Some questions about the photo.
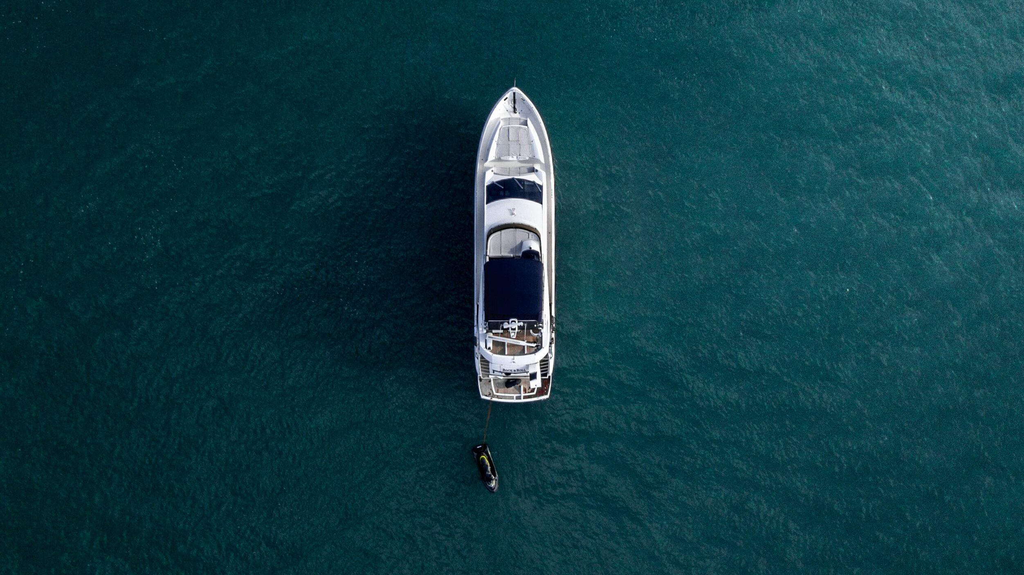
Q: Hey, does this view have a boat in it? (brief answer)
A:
Yes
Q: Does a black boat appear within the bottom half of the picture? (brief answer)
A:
Yes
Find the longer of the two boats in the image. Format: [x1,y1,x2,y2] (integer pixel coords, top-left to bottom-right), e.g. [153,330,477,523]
[474,82,556,402]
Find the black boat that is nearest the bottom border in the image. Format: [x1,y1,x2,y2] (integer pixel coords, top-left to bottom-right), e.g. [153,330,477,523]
[473,445,498,493]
